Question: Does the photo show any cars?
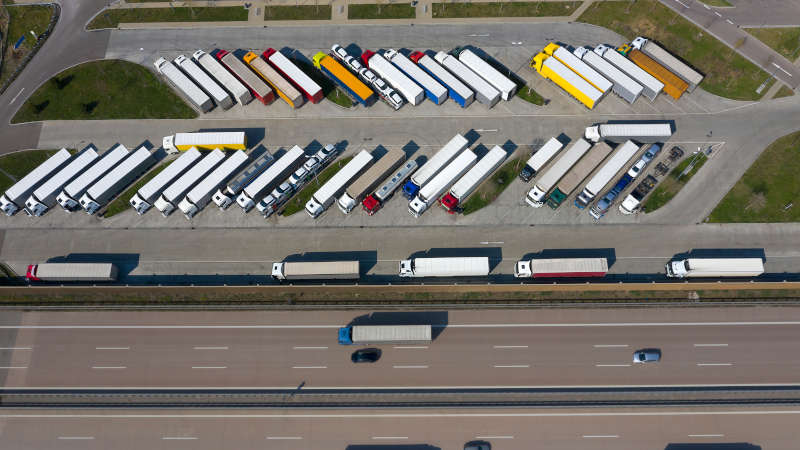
Yes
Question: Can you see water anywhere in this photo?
No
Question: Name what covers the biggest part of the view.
paved ground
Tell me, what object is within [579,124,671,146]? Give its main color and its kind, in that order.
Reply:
white truck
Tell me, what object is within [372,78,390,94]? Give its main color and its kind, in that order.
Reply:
white car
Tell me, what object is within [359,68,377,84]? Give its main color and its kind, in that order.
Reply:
white car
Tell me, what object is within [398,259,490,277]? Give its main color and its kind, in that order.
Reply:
white vehicle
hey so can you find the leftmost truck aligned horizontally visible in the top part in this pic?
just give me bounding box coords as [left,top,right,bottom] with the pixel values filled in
[164,132,249,155]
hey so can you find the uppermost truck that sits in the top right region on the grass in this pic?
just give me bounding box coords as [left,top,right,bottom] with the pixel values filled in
[629,39,703,94]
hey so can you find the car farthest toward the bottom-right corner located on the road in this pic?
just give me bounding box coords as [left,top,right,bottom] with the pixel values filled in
[633,349,661,362]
